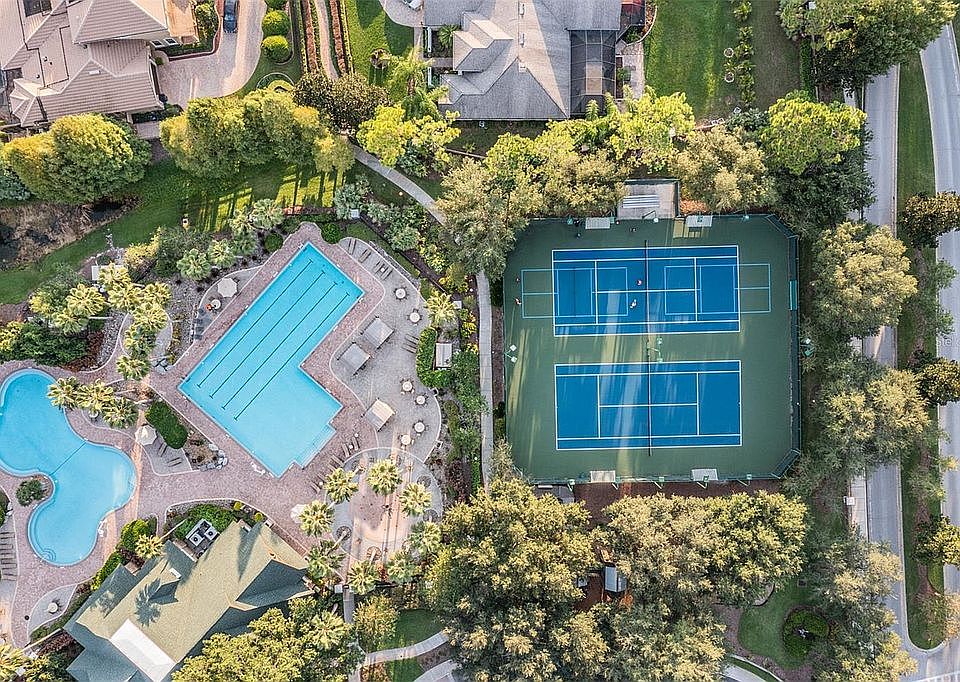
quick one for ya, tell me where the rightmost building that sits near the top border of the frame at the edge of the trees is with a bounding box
[424,0,620,123]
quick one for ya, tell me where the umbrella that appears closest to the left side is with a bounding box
[134,424,157,447]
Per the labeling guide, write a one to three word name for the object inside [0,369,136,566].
swimming pool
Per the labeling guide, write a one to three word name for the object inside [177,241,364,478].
swimming pool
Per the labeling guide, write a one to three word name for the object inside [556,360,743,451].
tennis court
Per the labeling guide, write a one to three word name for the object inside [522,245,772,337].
tennis court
